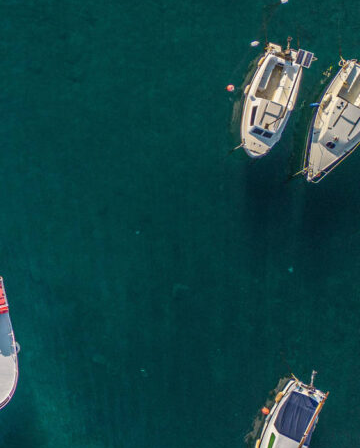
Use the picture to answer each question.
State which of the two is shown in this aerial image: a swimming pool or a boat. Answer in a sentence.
Looking from above, you can make out a boat.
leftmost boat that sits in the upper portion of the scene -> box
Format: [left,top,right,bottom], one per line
[233,37,318,157]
